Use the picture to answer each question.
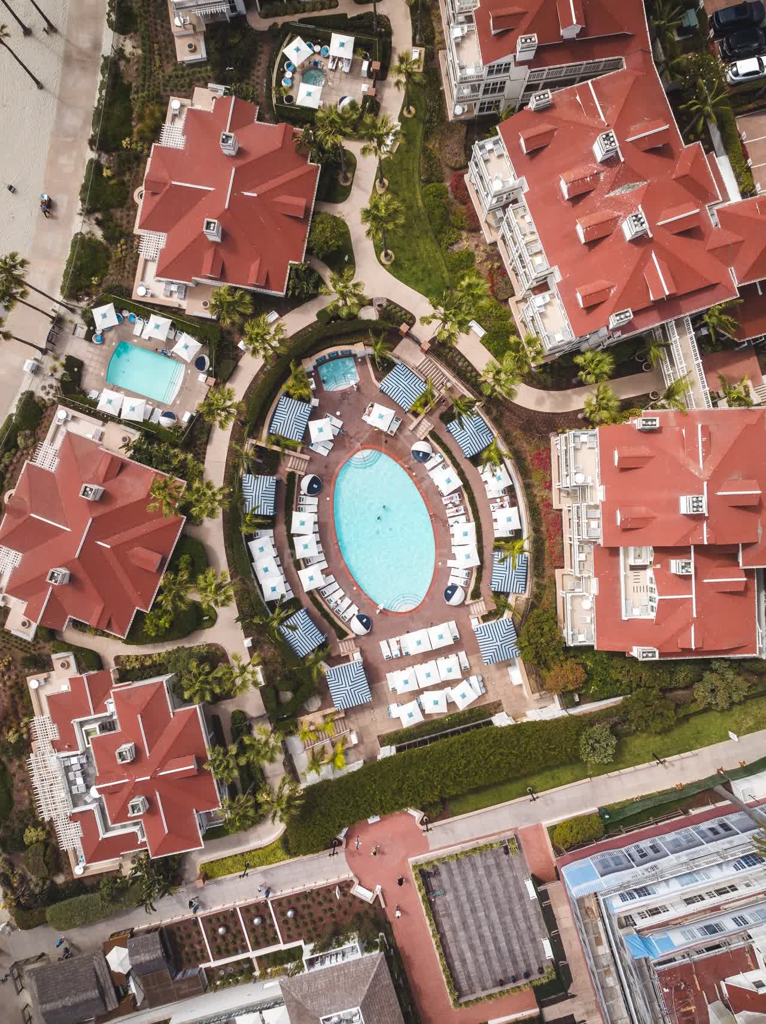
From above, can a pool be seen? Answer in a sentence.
Yes, a pool is visible in the scene.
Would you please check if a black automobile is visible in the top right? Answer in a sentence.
Yes, a black automobile is visible in the top right.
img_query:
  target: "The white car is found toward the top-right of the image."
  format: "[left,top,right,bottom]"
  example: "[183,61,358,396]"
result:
[725,57,766,86]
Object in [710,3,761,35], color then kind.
black car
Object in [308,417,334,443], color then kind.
white umbrella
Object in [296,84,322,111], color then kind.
white umbrella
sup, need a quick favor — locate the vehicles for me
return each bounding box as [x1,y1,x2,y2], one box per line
[710,3,761,35]
[719,36,766,65]
[725,57,766,86]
